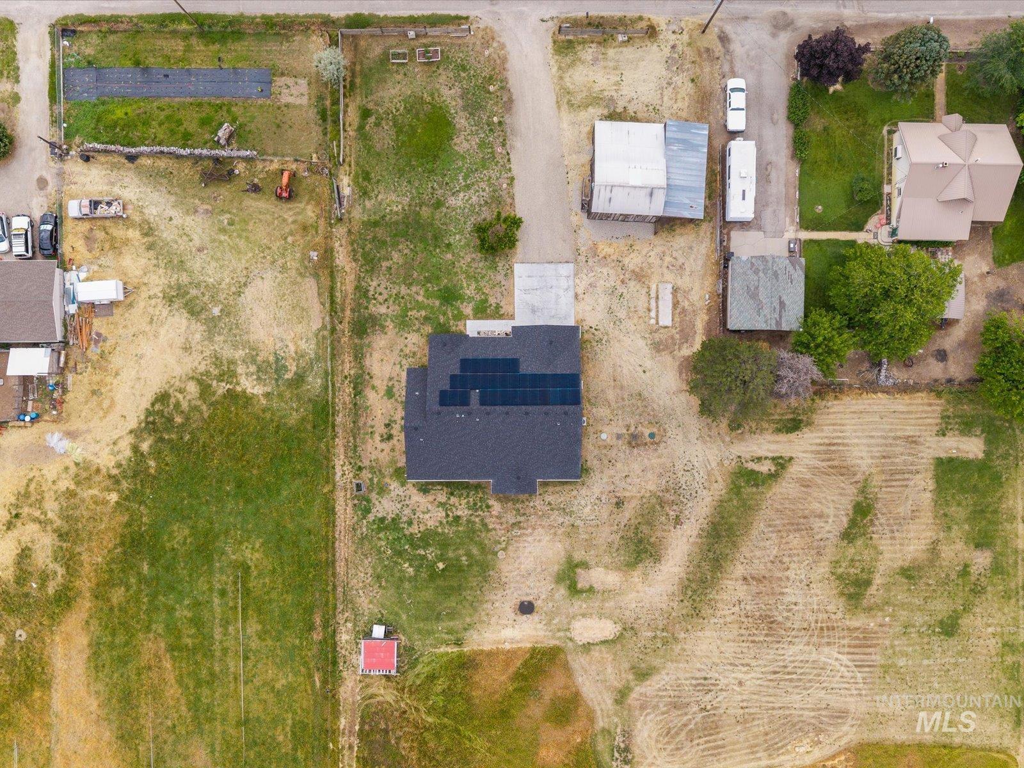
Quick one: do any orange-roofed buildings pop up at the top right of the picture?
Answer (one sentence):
No, I see no orange-roofed building at the top right of the picture.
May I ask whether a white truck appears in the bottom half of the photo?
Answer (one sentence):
No, the scene shows no white truck in the bottom half of the photo.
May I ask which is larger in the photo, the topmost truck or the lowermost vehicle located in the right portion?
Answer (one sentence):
The vehicle is larger than the truck.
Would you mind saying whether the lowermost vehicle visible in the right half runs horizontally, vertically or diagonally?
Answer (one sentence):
The lowermost vehicle visible in the right half has been laid out vertically relative to the frame.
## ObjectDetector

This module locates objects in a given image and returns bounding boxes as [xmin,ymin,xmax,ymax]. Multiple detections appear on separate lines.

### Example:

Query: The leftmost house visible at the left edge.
[0,259,71,343]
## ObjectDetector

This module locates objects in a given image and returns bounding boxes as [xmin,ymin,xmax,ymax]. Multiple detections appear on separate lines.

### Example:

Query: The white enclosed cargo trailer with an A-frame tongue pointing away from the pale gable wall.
[74,280,136,304]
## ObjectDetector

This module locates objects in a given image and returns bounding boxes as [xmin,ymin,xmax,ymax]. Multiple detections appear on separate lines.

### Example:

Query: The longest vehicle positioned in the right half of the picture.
[727,136,757,224]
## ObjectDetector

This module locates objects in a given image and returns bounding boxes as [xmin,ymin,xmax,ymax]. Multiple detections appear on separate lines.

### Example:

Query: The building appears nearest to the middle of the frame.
[405,326,582,494]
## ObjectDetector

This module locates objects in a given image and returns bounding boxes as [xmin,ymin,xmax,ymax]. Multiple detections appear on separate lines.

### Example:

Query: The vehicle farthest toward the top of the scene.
[724,79,748,135]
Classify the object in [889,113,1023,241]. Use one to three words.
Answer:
house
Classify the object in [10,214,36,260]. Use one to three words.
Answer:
car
